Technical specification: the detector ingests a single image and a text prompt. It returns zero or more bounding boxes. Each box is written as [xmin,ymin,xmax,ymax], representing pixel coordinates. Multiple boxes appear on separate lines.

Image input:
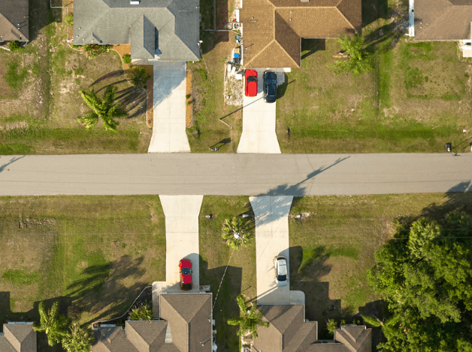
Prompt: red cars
[178,259,194,291]
[244,70,260,97]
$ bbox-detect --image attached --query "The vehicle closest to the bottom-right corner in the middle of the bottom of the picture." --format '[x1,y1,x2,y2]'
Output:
[274,255,291,287]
